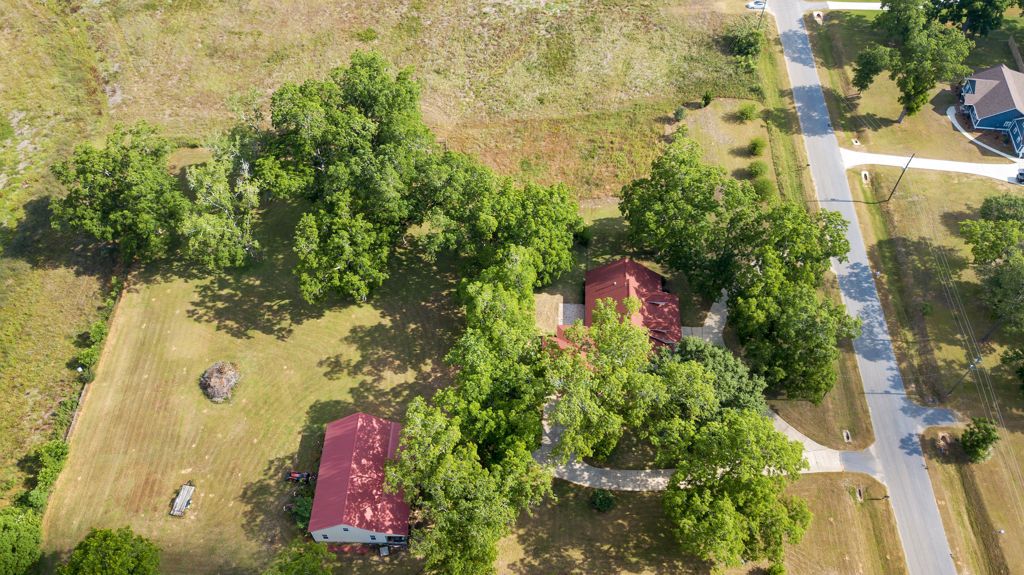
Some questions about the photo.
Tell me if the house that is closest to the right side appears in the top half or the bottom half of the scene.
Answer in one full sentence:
It is in the top half that the house that is closest to the right side appears.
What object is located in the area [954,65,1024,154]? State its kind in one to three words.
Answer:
house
